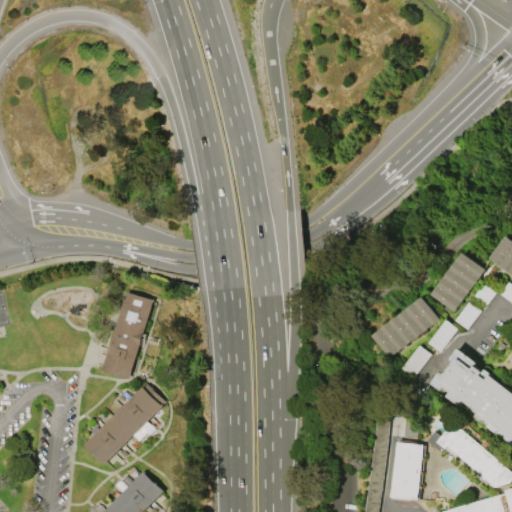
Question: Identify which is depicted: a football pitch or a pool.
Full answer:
This aerial view contains a pool.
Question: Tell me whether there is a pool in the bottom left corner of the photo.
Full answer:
No, there's no pool to be seen in the bottom left corner of the photo.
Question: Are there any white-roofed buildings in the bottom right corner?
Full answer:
Yes, a white-roofed building is visible in the bottom right corner.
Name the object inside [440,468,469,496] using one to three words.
swimming pool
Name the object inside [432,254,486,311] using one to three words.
building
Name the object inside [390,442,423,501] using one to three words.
building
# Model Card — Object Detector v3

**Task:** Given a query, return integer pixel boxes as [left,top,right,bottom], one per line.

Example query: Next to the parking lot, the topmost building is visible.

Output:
[103,292,156,377]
